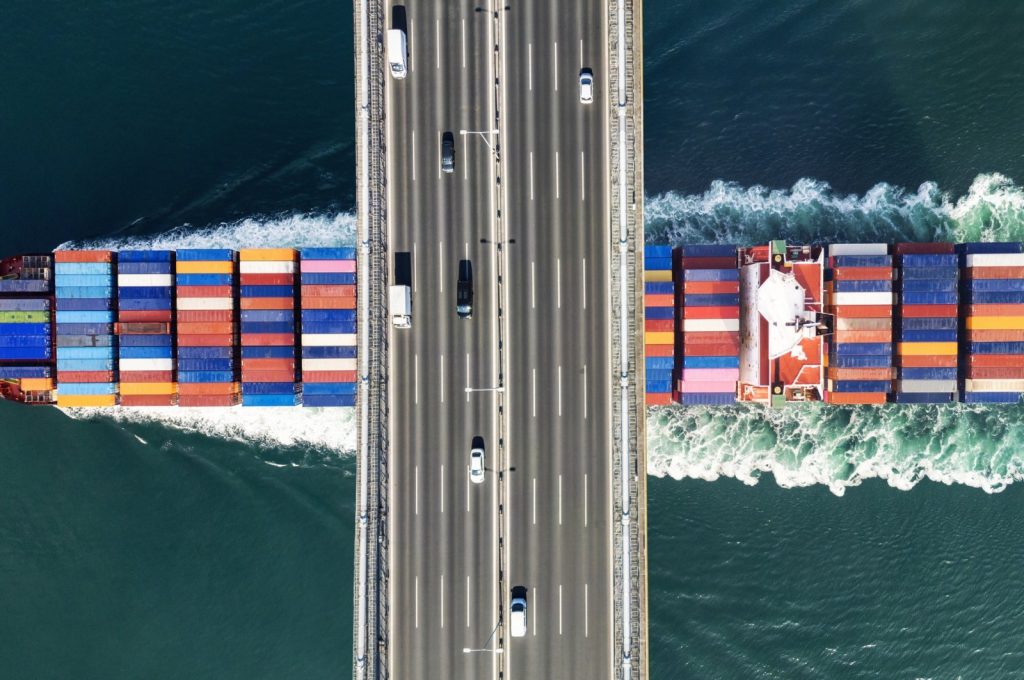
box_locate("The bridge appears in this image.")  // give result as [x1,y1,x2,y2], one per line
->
[356,0,647,680]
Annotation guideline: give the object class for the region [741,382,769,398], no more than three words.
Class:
boat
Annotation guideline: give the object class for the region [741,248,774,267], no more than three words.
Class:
boat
